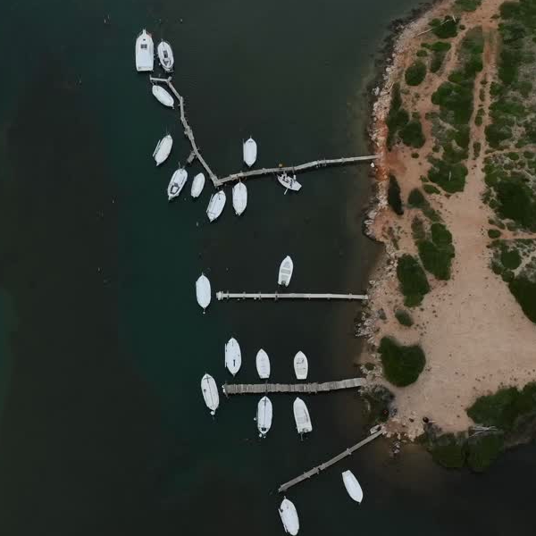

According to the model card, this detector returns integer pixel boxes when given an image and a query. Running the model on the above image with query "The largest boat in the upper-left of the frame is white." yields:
[134,27,154,76]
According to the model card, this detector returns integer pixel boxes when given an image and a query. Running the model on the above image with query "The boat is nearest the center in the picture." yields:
[277,256,293,289]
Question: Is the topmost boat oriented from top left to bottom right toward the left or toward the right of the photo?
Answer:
left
